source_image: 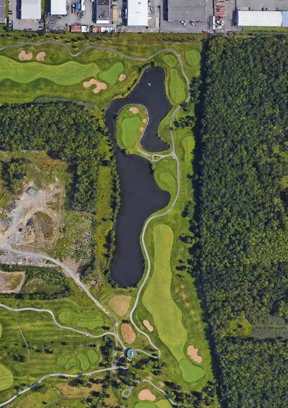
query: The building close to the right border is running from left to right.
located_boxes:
[236,11,282,27]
